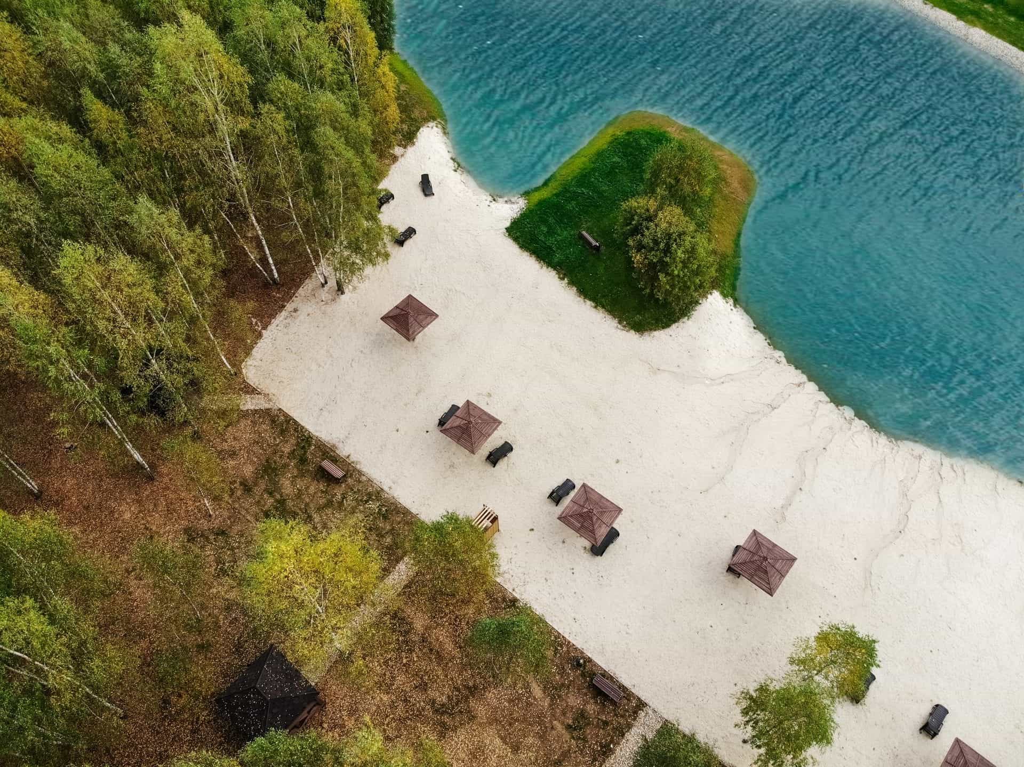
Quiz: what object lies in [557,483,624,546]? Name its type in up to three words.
umbrella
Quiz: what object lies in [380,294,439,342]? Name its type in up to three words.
umbrella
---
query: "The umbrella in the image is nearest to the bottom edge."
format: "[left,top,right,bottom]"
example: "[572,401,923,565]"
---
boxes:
[941,737,999,767]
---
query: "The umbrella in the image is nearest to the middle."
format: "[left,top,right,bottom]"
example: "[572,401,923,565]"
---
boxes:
[439,399,503,455]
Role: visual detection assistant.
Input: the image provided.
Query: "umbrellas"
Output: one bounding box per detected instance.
[380,294,439,342]
[729,528,798,596]
[941,737,999,767]
[439,399,503,455]
[557,483,624,546]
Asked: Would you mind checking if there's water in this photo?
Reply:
Yes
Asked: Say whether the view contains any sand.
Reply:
Yes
